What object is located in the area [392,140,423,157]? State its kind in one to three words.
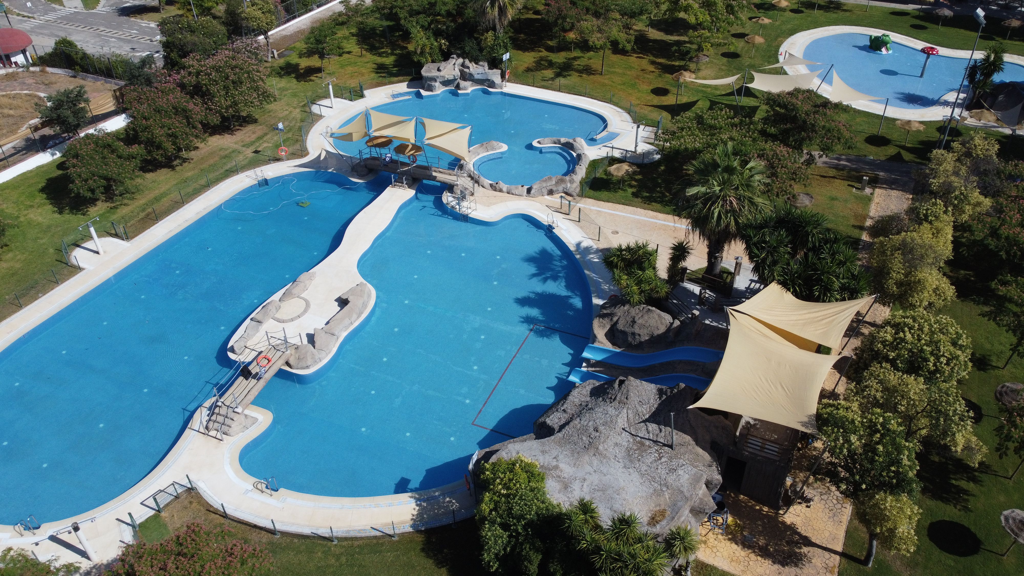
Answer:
umbrella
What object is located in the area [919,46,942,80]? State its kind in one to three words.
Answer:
fountain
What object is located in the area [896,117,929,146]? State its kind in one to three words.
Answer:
umbrella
